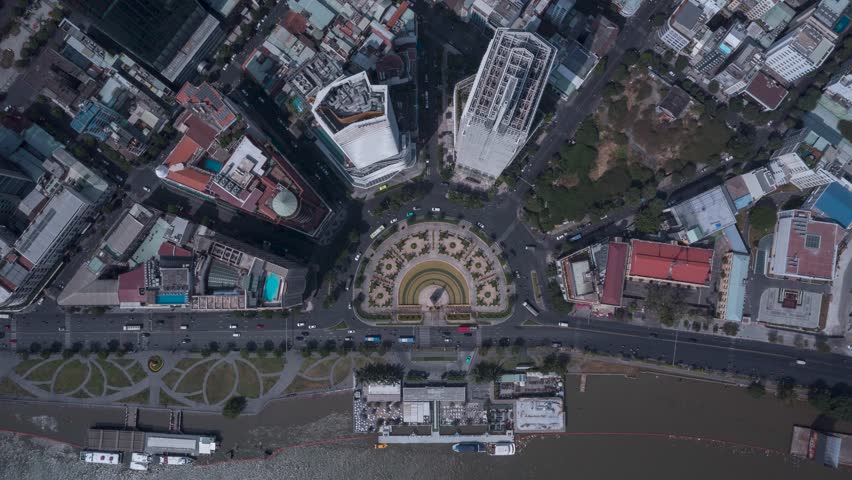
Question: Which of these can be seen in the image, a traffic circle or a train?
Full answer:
Looking from above, you can make out a traffic circle.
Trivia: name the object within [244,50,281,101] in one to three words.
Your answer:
house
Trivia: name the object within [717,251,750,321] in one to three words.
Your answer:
building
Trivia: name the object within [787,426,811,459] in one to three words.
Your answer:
pier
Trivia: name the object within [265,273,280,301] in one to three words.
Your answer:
swimming pool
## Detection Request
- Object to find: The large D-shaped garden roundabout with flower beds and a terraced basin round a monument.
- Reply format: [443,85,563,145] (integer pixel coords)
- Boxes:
[354,218,512,325]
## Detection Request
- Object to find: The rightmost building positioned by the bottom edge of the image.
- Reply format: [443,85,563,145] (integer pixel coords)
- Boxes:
[807,430,841,468]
